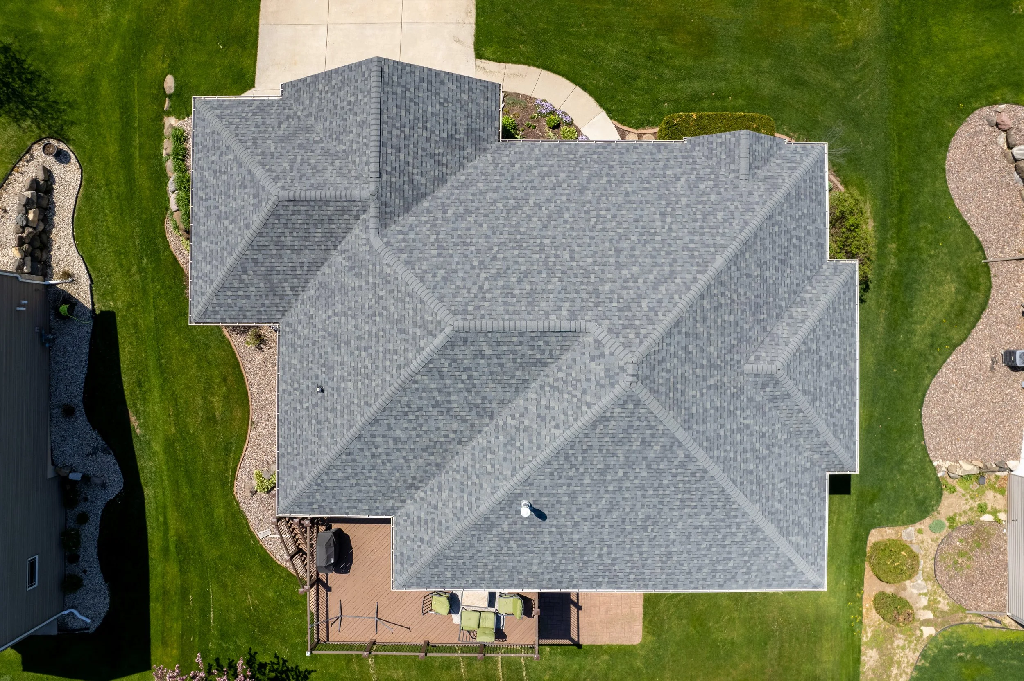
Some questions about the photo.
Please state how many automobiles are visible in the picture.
0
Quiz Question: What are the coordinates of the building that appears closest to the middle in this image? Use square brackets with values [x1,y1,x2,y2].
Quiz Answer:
[188,54,860,594]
